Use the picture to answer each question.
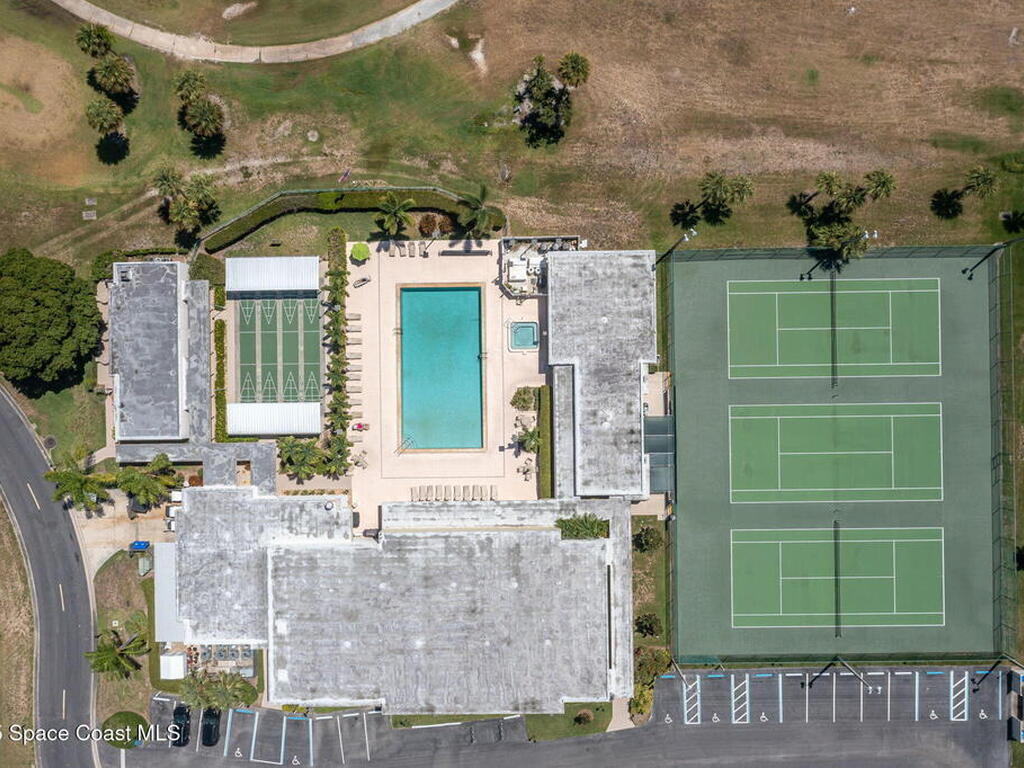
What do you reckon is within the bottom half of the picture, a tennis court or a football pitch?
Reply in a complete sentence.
Looking within the bottom half of the picture, you will find a tennis court.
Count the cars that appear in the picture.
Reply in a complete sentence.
The number of cars here is 2.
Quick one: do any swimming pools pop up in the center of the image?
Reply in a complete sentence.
Yes, a swimming pool is visible in the center of the image.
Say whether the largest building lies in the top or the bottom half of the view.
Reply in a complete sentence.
You can find the largest building in the bottom half.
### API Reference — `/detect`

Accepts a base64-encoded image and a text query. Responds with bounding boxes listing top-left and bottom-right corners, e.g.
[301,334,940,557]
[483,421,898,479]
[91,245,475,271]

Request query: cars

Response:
[170,707,192,748]
[199,708,221,748]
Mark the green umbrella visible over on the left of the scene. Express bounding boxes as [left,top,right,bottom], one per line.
[351,243,370,262]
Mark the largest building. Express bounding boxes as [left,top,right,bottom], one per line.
[154,486,632,714]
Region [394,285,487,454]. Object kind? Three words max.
swimming pool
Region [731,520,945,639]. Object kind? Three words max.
tennis court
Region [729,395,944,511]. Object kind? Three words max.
tennis court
